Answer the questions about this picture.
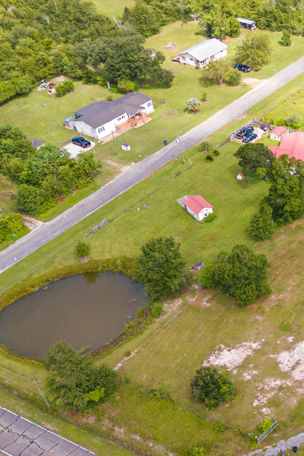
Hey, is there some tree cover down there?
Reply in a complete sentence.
Yes, the picture does contain tree cover.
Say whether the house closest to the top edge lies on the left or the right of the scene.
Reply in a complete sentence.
The house closest to the top edge is on the right side of the image.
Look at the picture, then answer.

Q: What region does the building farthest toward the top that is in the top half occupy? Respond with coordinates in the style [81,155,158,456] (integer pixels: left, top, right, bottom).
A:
[177,40,228,67]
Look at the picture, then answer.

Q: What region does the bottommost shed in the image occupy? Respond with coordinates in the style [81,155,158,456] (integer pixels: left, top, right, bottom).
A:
[178,195,214,221]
